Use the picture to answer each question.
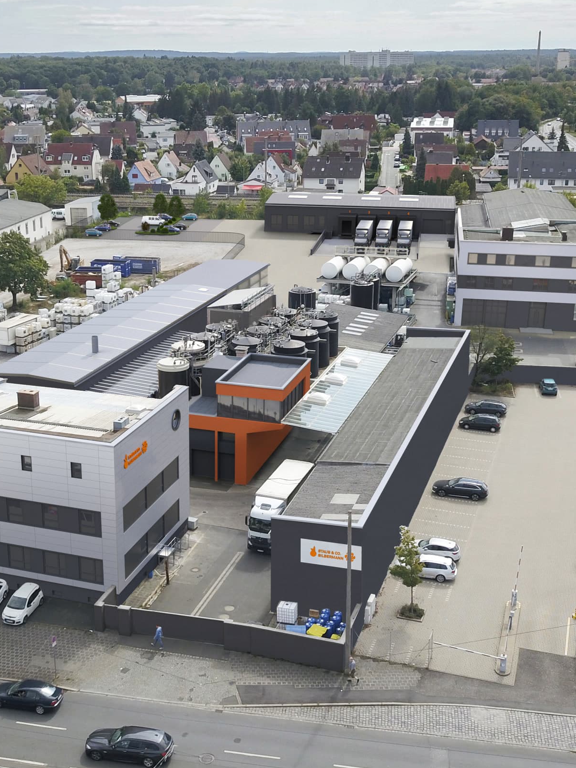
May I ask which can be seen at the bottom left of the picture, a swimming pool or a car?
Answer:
car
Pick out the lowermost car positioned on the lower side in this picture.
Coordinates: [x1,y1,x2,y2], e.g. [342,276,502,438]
[81,725,171,768]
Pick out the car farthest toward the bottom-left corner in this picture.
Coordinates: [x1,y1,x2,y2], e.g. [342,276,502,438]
[0,677,68,716]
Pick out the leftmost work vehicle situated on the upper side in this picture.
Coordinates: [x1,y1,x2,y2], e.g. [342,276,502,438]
[53,244,78,277]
